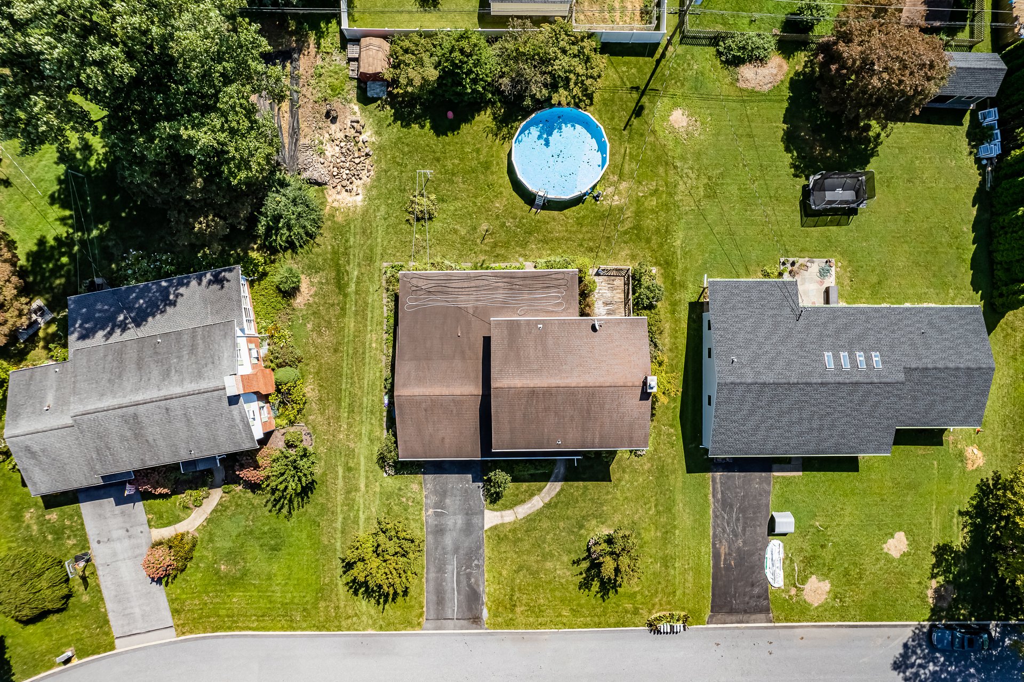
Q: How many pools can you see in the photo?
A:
one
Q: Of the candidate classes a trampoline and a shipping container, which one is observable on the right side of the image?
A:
trampoline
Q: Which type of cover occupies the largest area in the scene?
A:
grass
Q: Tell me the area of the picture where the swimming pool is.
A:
top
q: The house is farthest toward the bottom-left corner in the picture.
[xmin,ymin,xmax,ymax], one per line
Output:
[4,264,285,498]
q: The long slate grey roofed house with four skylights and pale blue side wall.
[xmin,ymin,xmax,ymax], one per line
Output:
[696,277,995,457]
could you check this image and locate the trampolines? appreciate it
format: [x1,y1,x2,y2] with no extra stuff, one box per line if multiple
[805,171,877,211]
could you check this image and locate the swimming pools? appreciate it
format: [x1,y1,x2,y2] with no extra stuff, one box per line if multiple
[513,105,608,203]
